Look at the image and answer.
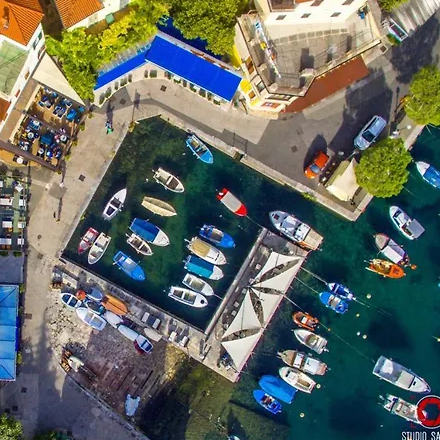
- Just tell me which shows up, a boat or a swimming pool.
boat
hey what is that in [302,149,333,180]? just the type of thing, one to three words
car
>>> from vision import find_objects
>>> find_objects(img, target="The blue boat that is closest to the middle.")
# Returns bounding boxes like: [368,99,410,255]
[198,223,237,247]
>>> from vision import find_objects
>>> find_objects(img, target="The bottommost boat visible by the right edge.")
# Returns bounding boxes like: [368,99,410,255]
[379,390,435,424]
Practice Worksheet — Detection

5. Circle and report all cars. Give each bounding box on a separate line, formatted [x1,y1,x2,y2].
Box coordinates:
[350,112,391,154]
[302,149,333,180]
